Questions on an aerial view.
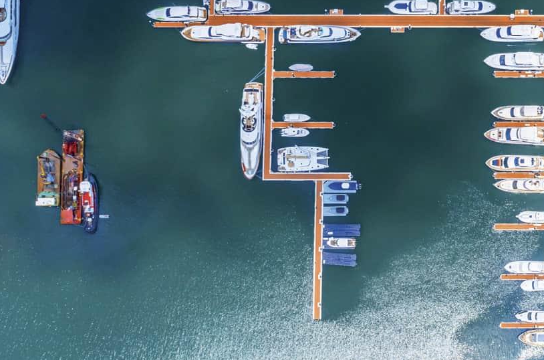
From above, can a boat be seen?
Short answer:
Yes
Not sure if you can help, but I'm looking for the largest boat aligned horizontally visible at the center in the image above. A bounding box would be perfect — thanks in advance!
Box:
[277,147,329,171]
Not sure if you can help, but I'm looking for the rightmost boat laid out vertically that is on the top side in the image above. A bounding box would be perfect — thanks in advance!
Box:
[239,80,263,179]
